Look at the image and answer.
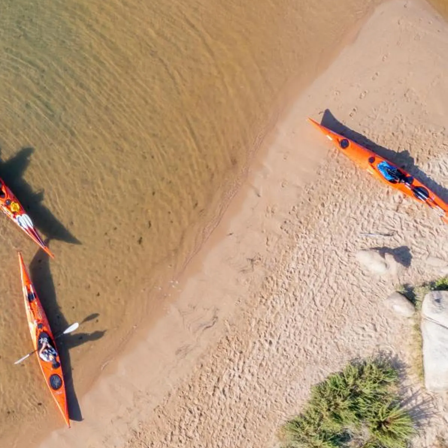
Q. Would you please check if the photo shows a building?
No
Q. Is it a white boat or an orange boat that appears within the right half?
orange boat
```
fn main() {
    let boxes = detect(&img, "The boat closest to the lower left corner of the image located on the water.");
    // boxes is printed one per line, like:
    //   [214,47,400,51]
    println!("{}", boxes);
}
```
[18,252,69,428]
